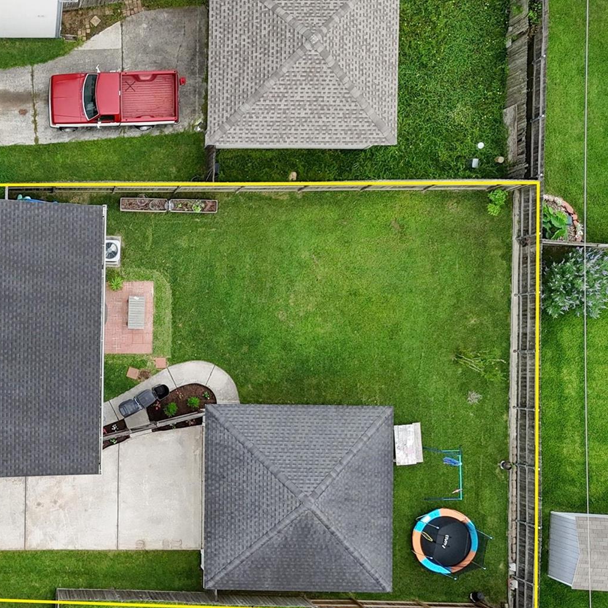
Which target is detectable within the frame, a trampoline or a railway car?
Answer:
trampoline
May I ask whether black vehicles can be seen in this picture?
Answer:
No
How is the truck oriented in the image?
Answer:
horizontally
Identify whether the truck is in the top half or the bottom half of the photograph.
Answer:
top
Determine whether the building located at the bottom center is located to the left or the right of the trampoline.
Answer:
on its left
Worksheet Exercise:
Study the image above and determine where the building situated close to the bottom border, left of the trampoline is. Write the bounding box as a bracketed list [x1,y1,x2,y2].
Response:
[201,402,395,595]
